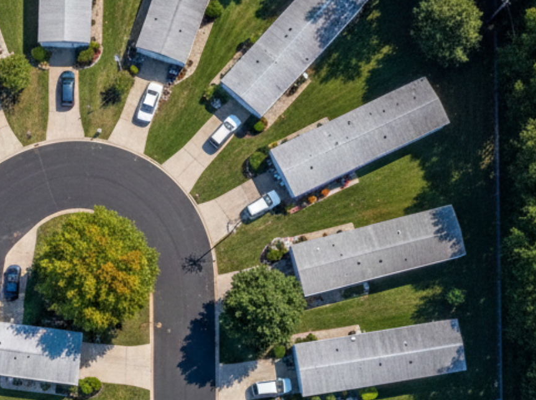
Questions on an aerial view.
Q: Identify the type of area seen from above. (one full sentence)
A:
It's a residential area.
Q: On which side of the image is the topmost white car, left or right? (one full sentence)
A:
The topmost white car sits on the left side.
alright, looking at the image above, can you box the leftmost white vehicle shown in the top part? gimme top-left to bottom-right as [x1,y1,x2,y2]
[139,83,162,122]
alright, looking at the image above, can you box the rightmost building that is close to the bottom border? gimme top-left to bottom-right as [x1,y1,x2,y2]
[292,318,466,398]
